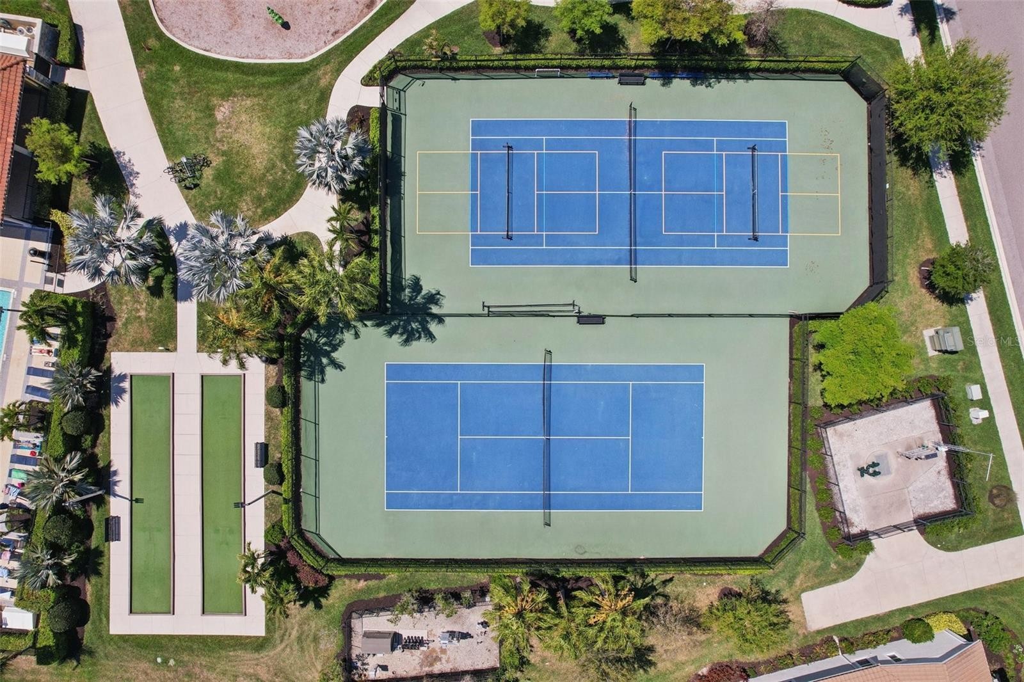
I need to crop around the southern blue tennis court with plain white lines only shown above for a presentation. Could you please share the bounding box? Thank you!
[301,315,791,559]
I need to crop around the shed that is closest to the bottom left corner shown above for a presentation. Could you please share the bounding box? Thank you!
[360,630,393,659]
